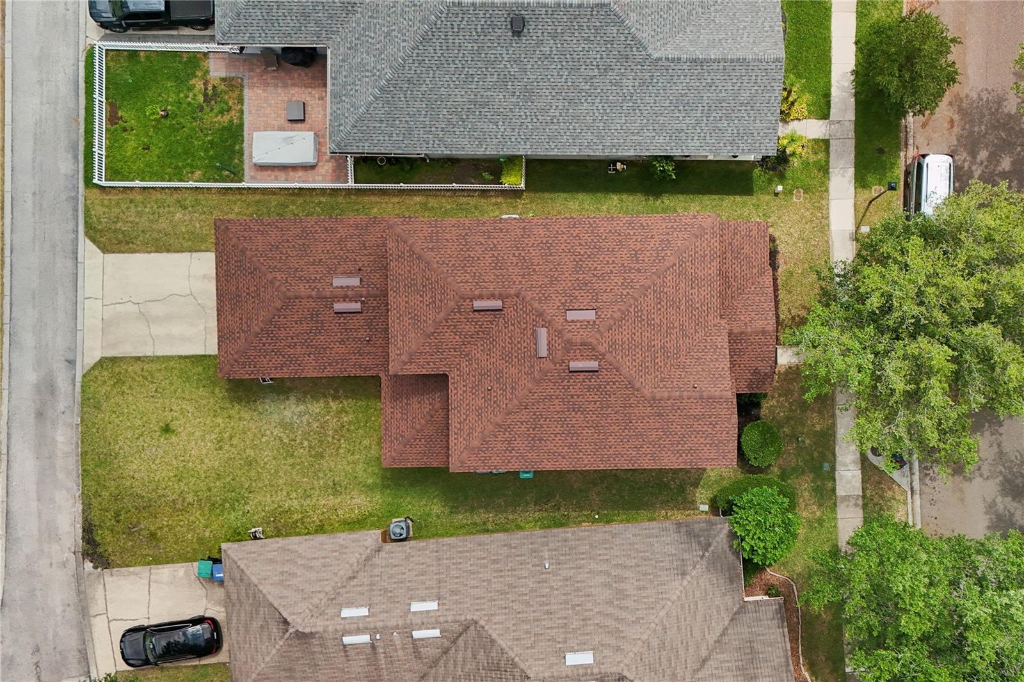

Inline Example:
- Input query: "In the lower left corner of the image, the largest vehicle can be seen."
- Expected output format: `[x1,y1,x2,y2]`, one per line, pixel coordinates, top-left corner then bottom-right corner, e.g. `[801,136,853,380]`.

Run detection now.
[117,616,220,673]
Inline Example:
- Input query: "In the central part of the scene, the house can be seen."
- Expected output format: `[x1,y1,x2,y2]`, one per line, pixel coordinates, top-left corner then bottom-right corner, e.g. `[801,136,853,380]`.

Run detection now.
[215,215,778,472]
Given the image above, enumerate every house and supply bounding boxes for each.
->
[215,215,778,472]
[222,506,800,682]
[215,0,785,166]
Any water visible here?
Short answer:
No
